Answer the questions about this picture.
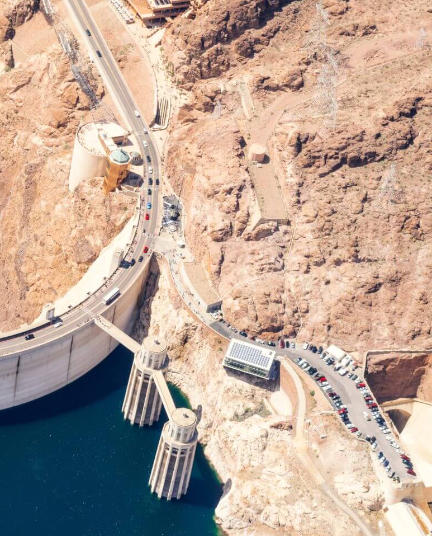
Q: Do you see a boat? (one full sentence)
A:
No, I can't see a single boat in this photo.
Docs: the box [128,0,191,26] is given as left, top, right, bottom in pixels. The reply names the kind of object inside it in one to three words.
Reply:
building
